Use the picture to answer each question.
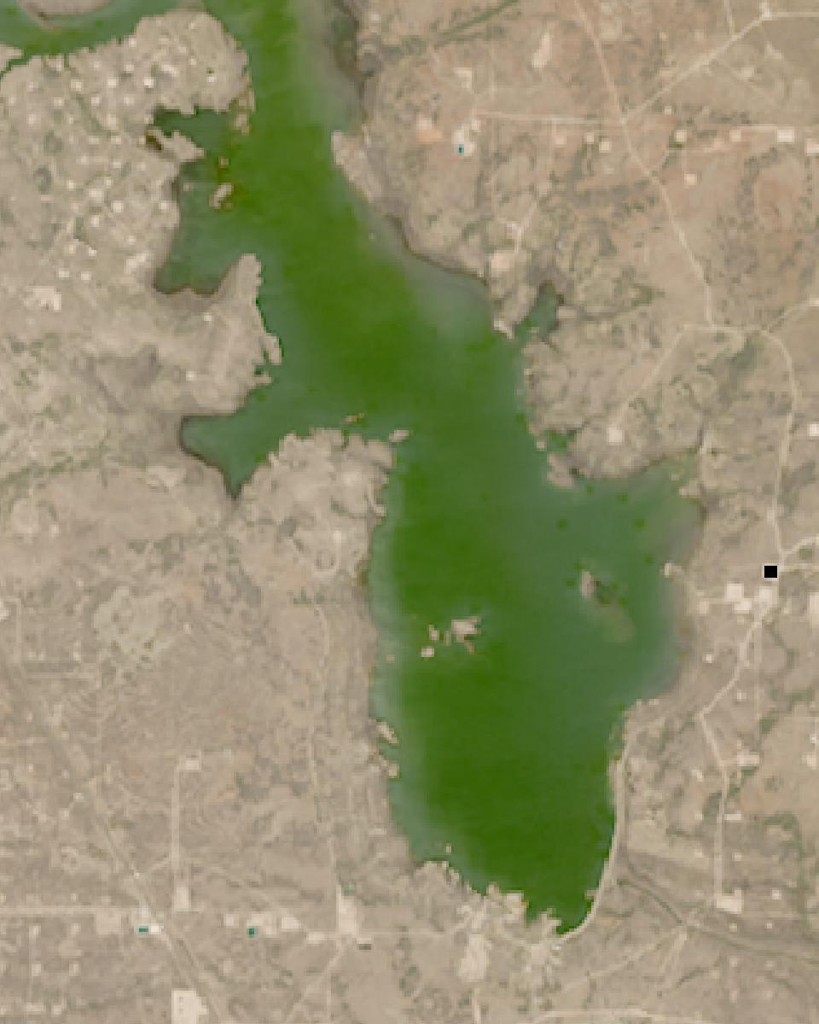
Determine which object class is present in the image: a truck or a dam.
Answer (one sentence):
The image shows a dam.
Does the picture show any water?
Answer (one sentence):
Yes, the picture does contain water.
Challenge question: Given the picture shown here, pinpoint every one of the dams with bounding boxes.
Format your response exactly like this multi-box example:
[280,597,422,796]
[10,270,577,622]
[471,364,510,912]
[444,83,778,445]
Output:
[553,742,634,946]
